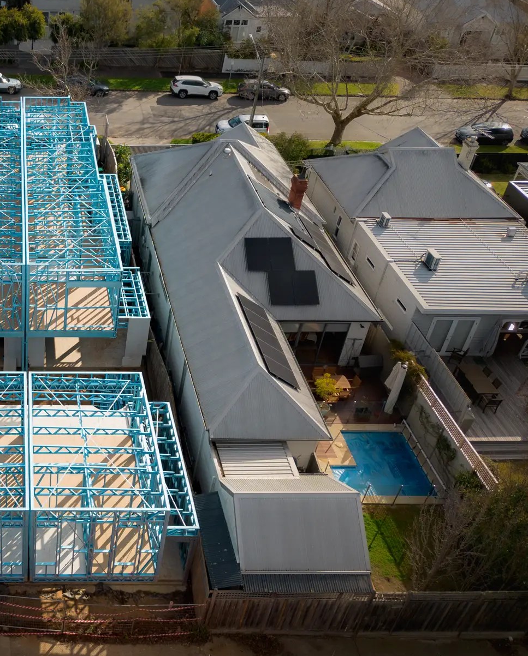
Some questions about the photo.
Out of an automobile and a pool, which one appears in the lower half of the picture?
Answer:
pool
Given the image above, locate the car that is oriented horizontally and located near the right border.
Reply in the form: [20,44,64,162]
[446,115,520,144]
